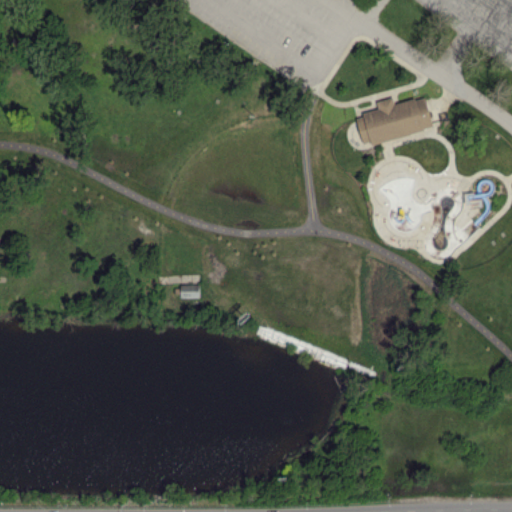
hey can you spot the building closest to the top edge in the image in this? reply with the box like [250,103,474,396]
[356,96,434,146]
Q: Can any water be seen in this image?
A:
Yes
